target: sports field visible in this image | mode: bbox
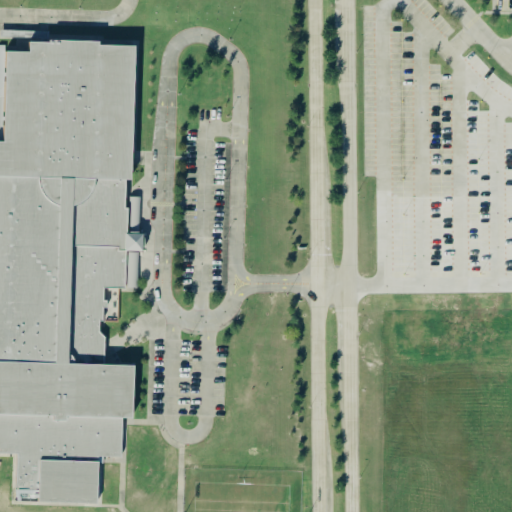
[186,470,301,512]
